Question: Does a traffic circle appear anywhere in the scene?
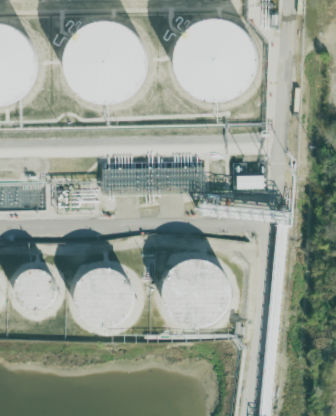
No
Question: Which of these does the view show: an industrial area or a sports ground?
industrial area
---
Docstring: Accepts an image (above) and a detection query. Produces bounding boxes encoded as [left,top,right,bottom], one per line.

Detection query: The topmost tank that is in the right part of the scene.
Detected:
[168,14,265,110]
